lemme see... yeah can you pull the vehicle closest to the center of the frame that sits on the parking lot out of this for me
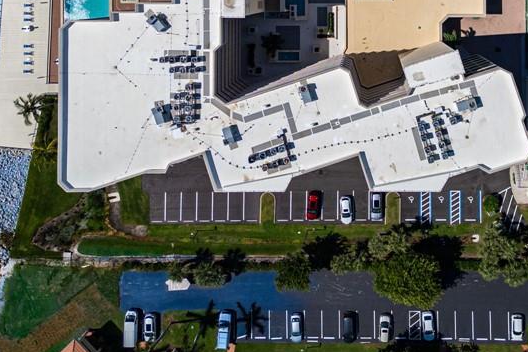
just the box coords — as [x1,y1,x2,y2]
[307,190,320,219]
